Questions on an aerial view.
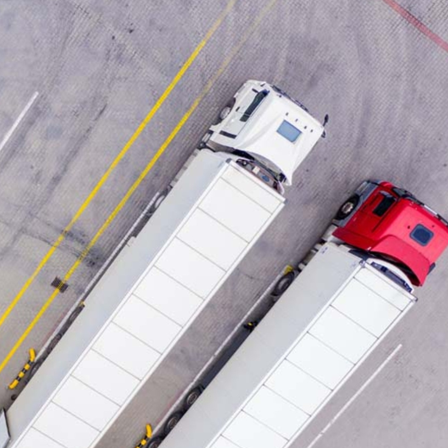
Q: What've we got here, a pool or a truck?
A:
truck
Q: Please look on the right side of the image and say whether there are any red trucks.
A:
Yes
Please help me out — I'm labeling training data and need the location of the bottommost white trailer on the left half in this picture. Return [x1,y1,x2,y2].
[0,149,286,448]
